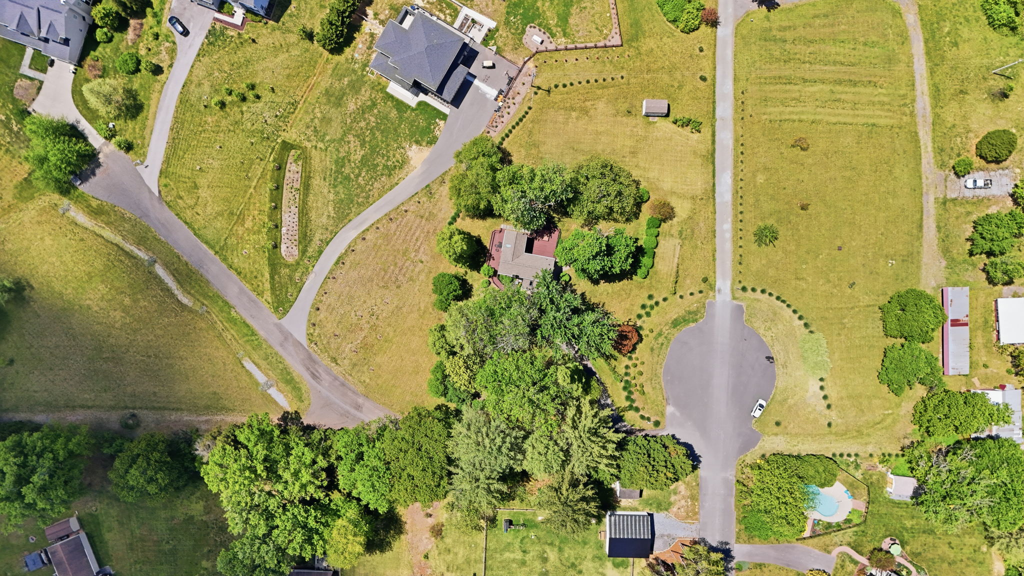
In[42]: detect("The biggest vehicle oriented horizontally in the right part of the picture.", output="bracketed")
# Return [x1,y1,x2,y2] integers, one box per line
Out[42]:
[964,177,994,189]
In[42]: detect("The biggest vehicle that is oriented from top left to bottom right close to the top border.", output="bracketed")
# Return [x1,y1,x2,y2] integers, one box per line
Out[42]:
[169,16,189,37]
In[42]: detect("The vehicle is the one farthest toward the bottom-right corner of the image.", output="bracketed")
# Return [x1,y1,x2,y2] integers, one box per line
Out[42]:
[750,398,767,418]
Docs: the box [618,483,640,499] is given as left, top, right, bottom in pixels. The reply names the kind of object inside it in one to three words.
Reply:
shed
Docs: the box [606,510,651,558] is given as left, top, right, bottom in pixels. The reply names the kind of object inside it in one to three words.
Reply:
barn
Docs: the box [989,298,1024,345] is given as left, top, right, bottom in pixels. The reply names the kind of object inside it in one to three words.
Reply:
building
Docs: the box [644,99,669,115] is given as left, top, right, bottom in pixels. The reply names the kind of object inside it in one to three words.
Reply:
shed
